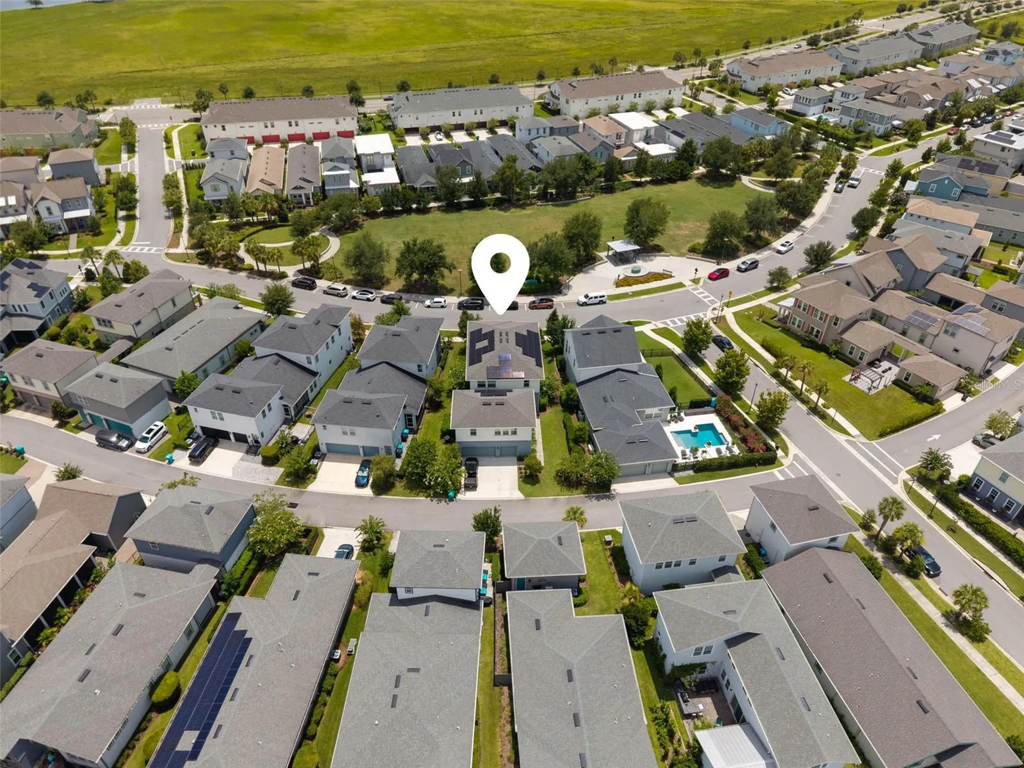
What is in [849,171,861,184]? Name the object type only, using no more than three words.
vehicle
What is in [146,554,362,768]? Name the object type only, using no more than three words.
house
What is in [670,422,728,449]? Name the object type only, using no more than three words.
swimming pool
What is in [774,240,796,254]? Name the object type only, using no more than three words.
car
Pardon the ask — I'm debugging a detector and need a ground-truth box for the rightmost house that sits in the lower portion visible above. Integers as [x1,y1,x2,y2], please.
[967,436,1024,527]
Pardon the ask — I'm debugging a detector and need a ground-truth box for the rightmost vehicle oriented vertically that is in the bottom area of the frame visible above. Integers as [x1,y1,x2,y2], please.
[463,457,479,490]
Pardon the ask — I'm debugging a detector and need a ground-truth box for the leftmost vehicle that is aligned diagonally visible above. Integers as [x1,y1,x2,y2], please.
[134,422,168,450]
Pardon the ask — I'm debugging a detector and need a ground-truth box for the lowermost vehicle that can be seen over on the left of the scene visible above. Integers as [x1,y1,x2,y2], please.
[333,539,355,560]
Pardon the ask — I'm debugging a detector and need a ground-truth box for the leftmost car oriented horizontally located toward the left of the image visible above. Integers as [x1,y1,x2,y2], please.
[94,429,132,449]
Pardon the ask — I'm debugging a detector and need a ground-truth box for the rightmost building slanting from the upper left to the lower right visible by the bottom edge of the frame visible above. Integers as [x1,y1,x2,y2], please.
[762,549,1024,768]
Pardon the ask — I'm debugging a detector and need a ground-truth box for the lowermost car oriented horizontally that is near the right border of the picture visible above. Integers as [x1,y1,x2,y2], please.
[968,433,1007,448]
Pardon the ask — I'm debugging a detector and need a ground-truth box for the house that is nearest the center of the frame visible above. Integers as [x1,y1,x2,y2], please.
[450,321,544,457]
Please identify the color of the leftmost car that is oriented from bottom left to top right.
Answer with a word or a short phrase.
white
